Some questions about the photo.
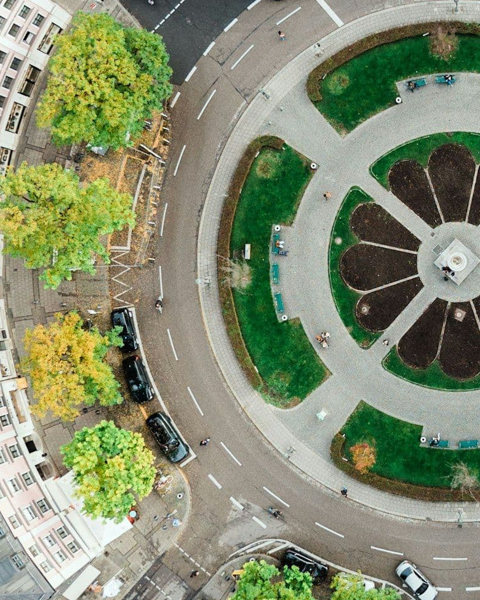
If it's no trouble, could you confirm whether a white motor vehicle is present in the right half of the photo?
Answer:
Yes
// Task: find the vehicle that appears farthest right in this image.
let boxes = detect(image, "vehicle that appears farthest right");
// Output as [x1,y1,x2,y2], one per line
[392,556,442,600]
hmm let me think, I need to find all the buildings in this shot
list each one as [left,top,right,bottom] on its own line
[0,377,132,600]
[0,0,74,189]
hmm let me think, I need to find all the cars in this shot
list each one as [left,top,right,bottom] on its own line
[392,556,442,600]
[122,353,157,405]
[111,306,142,353]
[278,546,336,586]
[147,407,192,466]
